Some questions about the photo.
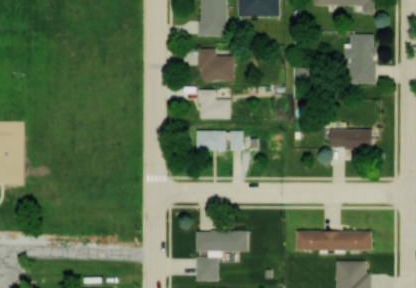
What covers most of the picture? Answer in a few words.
grass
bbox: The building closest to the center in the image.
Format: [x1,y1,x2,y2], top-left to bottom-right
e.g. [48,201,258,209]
[196,130,226,151]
